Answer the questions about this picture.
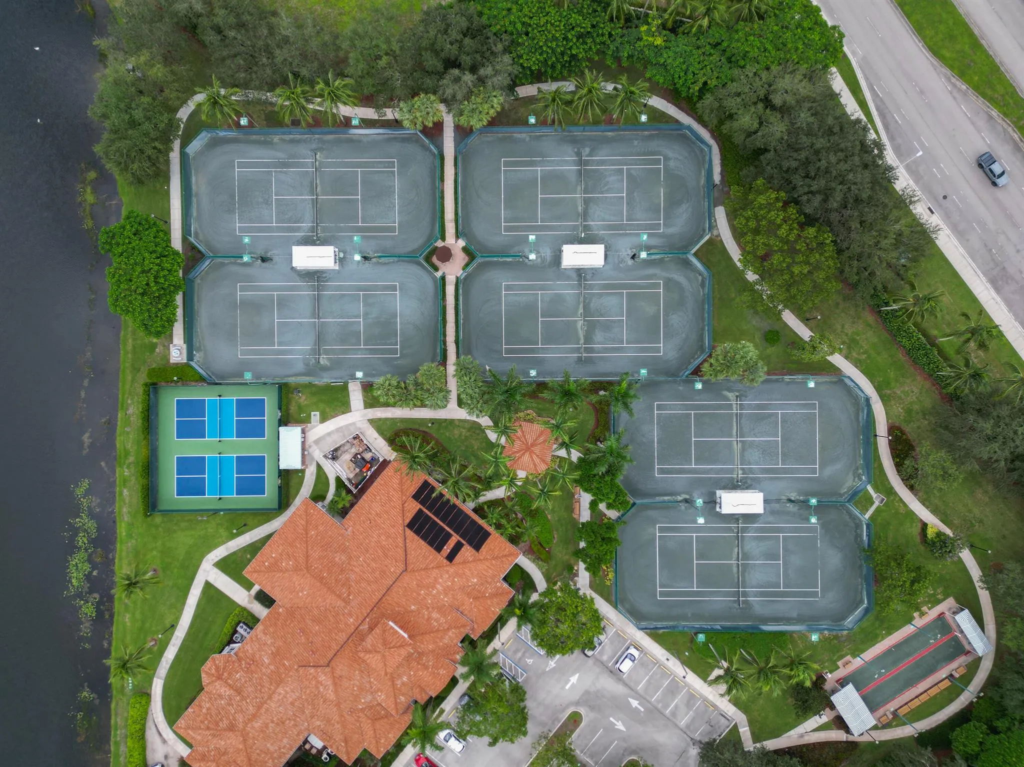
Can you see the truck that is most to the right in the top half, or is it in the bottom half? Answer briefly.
top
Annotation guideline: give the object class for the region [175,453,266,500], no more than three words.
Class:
sports court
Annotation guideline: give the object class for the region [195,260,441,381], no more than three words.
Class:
tennis court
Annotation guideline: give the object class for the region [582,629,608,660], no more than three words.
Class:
car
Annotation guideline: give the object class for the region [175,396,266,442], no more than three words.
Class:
sports court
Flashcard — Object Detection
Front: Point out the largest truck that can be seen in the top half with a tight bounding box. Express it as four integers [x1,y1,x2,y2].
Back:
[974,152,1006,188]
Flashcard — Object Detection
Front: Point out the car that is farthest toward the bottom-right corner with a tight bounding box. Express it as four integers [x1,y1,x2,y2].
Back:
[614,645,639,674]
